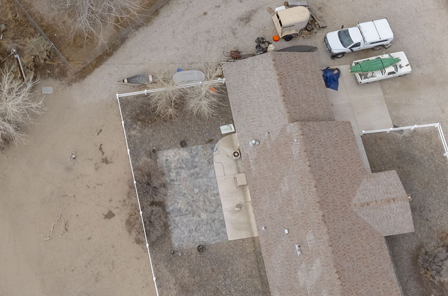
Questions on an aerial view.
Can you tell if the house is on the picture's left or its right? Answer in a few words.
right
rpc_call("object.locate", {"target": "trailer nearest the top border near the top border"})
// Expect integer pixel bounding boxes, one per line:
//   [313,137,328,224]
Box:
[268,8,314,37]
